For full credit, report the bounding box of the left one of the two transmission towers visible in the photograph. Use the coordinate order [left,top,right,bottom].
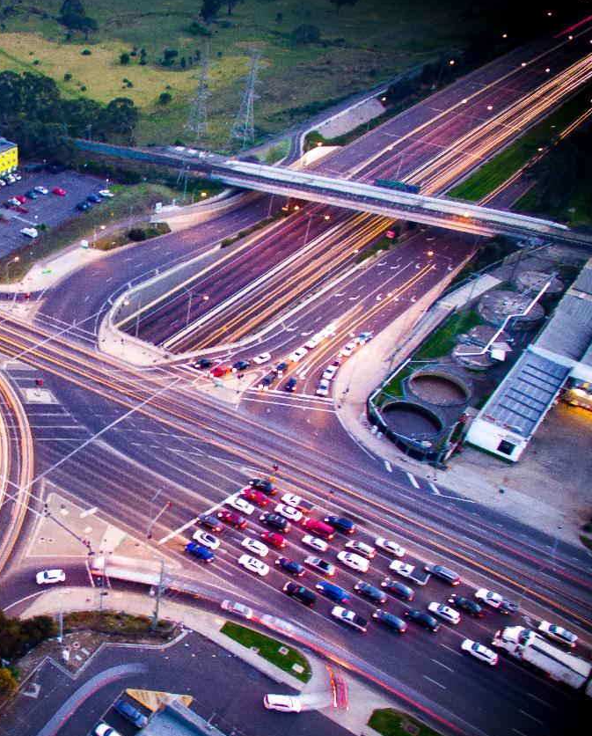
[177,39,219,142]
